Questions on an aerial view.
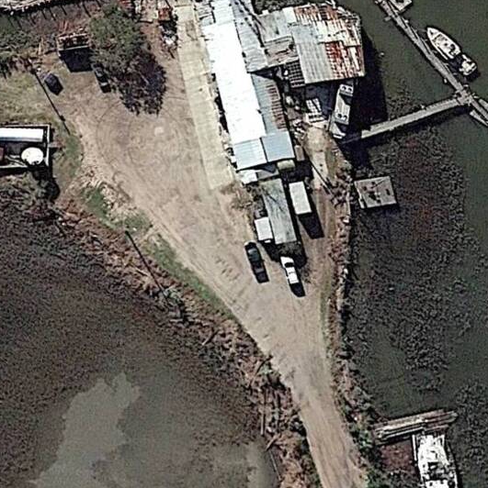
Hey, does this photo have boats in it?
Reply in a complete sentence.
Yes, the frame does contain a boat.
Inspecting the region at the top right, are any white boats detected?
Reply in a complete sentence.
Yes, looking at the top right, one can make out a white boat.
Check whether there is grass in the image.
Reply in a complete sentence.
Yes, some grass is visible.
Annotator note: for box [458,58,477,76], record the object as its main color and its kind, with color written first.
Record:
white boat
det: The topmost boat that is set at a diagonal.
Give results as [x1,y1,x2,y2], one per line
[426,26,460,60]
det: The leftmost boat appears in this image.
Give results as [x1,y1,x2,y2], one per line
[330,80,353,139]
